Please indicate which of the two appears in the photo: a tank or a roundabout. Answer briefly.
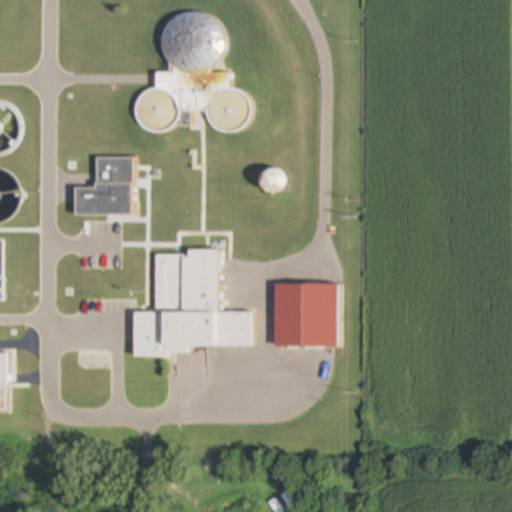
tank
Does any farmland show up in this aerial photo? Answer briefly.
Yes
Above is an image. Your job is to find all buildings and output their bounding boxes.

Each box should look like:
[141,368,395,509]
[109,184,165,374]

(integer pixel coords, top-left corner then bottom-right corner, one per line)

[133,248,258,358]
[274,283,343,346]
[0,352,16,412]
[155,60,236,126]
[74,156,140,216]
[0,241,8,302]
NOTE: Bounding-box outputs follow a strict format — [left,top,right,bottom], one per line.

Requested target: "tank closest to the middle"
[259,166,288,195]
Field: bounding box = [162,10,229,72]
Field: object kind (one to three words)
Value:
storage tank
